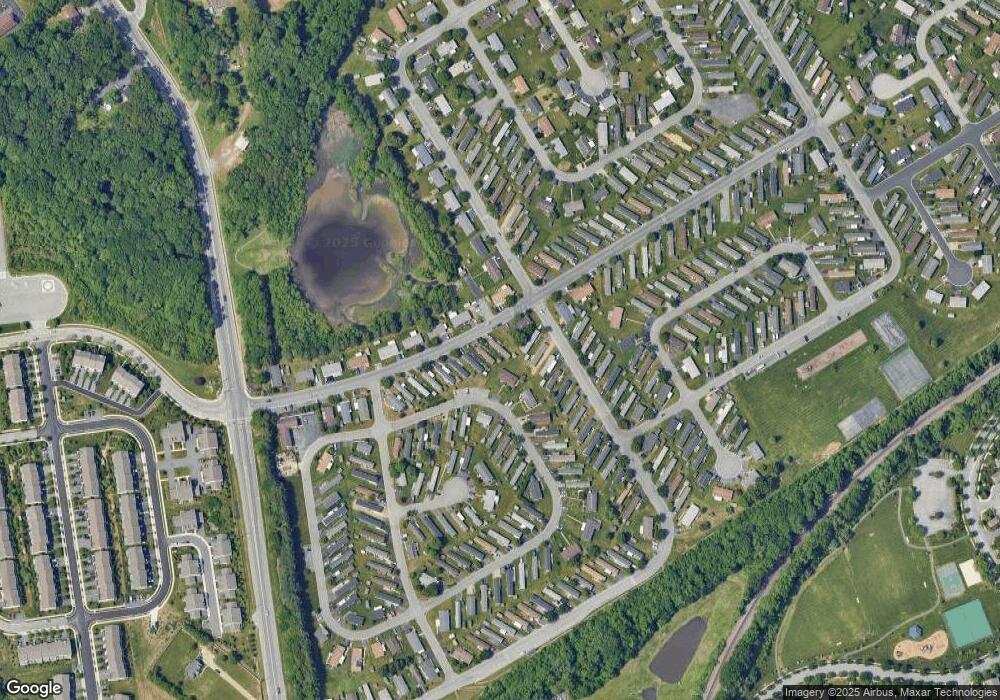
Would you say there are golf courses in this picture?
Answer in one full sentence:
No, I can see no golf course in this picture.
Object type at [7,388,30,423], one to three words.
house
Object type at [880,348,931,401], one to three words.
tennis court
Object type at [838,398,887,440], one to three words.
basketball court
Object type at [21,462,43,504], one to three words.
house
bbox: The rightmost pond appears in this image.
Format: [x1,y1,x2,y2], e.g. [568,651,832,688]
[642,617,708,700]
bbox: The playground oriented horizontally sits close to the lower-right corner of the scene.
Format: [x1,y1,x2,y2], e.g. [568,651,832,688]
[892,630,948,658]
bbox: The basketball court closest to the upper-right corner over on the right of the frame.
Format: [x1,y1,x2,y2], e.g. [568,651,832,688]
[871,312,908,353]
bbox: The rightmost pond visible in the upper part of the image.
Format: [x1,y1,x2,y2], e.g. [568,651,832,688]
[289,166,408,327]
